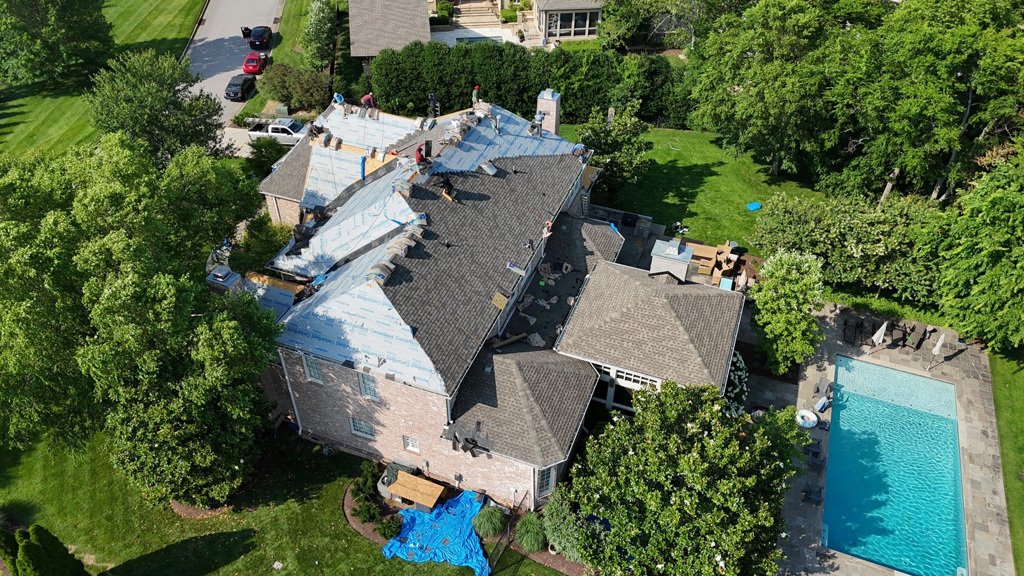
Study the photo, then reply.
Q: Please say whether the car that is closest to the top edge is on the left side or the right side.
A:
left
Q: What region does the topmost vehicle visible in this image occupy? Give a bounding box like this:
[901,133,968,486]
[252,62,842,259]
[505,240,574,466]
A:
[241,26,275,51]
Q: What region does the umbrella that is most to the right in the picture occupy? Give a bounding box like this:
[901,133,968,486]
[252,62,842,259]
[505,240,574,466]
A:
[927,333,945,371]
